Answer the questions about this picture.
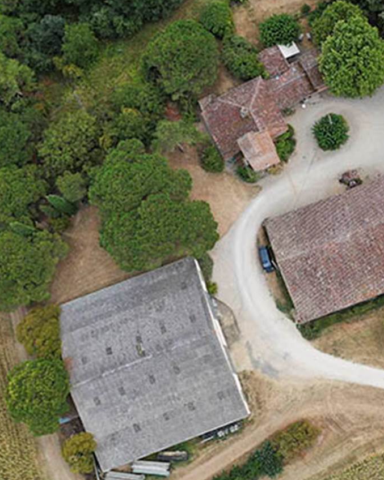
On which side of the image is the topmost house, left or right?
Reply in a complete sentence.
You can find the topmost house on the right side of the picture.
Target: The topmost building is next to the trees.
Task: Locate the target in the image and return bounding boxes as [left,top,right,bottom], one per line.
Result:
[197,45,325,175]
